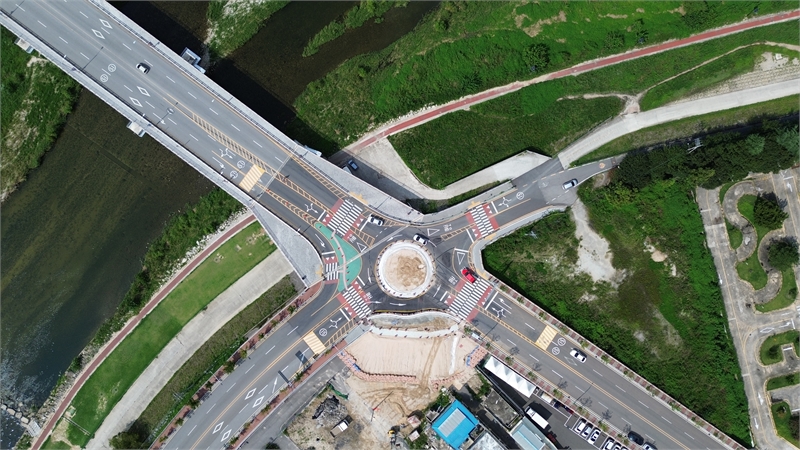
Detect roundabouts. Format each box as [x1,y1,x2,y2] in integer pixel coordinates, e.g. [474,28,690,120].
[255,152,567,322]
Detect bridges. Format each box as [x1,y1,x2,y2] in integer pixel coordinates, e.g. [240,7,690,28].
[0,0,352,209]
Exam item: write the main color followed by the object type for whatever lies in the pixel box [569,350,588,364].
white car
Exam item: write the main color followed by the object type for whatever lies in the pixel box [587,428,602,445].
white car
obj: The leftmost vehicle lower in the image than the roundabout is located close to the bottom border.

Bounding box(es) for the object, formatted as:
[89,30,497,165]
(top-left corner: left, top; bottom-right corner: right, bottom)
[330,420,350,438]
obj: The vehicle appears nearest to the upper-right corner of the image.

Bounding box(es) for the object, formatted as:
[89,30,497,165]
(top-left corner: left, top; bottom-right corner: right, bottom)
[561,178,579,191]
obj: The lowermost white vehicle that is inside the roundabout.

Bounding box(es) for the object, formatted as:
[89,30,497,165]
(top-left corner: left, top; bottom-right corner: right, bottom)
[412,234,428,247]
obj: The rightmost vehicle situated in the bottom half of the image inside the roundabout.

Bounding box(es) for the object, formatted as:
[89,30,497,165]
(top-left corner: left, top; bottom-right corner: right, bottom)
[459,266,478,285]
